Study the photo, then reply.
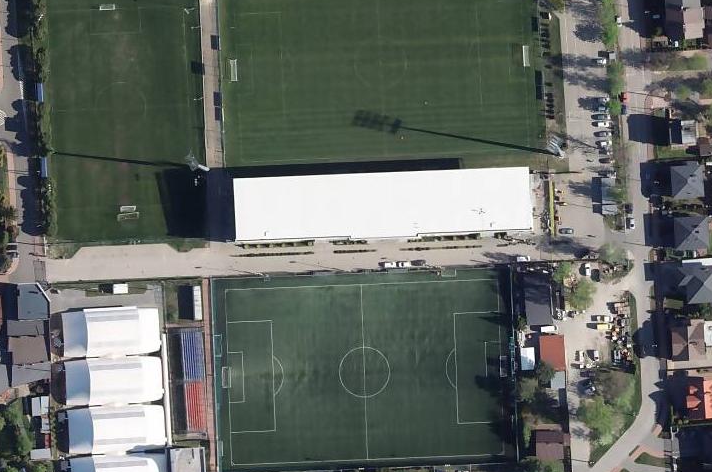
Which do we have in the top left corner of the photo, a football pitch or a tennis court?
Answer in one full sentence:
The feature located in the top left corner of the photo is a football pitch.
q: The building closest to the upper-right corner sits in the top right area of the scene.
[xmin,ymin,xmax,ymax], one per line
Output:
[664,0,712,47]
